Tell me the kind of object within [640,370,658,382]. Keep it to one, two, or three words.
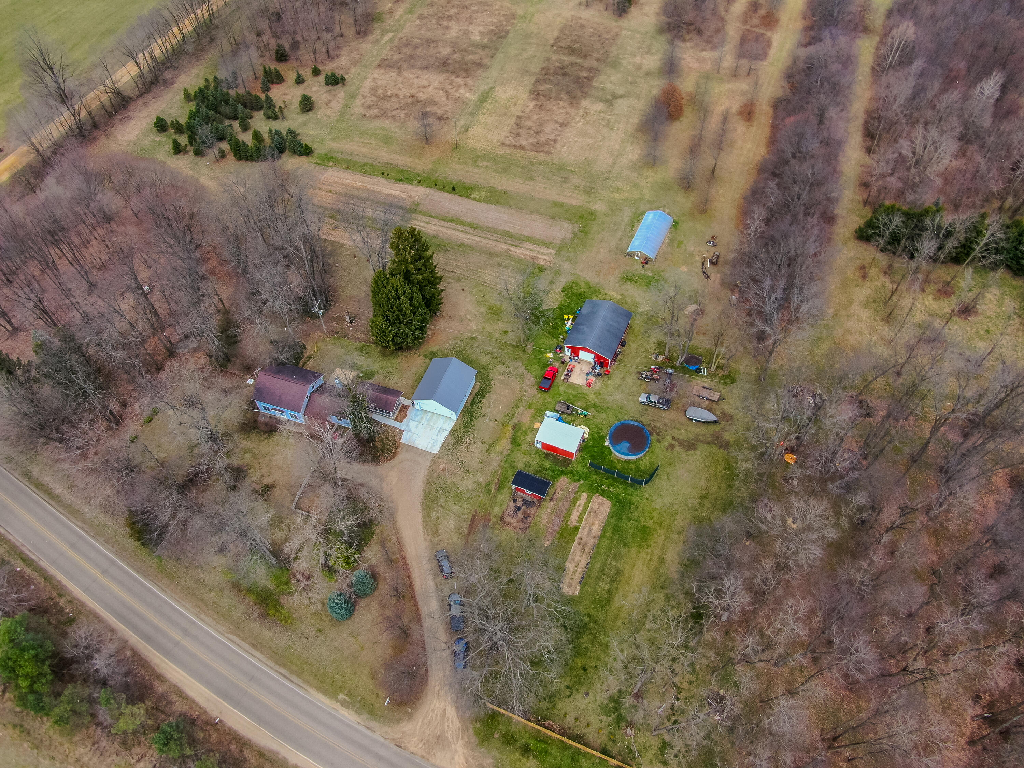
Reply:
vehicle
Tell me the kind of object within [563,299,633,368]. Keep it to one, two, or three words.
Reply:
barn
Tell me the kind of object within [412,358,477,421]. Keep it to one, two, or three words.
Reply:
building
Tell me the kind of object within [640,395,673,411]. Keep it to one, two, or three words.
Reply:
vehicle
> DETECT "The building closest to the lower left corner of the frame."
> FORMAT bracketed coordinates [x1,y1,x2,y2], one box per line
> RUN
[252,361,403,440]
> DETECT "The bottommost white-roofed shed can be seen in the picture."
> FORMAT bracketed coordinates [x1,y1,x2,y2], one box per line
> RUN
[536,418,584,458]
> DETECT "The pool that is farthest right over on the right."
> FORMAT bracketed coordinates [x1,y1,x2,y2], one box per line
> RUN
[608,420,651,460]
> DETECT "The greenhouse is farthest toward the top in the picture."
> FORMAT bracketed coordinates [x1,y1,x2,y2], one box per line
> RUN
[626,211,672,265]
